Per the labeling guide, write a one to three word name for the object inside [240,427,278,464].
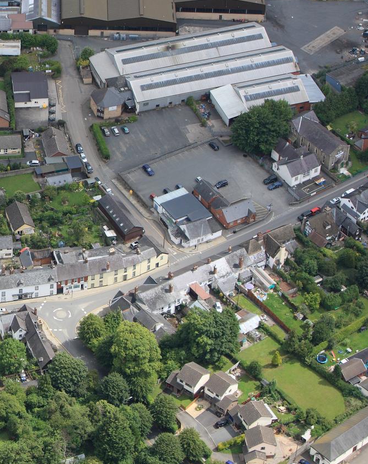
house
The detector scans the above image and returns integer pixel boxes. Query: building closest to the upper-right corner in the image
[325,63,366,93]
